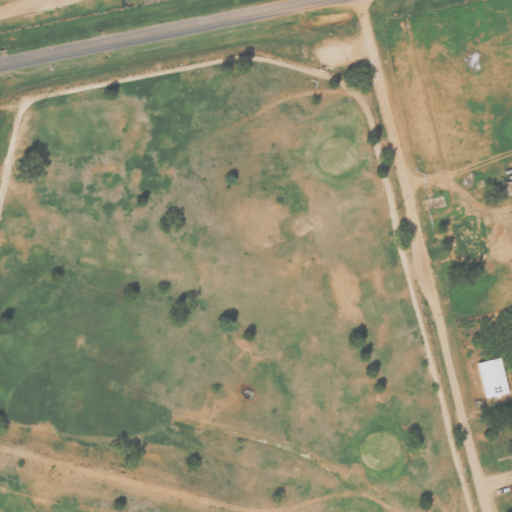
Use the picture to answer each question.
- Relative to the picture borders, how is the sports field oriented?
horizontally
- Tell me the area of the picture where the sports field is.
bottom left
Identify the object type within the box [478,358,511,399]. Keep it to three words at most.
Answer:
building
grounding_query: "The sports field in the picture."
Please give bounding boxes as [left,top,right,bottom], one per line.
[9,357,171,438]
